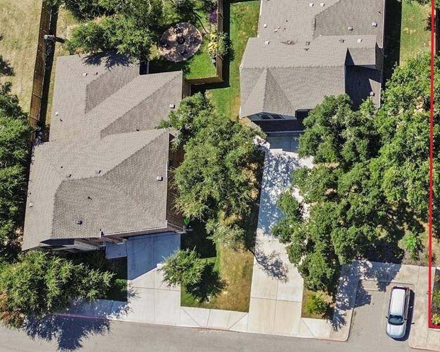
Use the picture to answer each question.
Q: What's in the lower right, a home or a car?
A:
car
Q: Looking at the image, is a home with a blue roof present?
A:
No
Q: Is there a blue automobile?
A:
No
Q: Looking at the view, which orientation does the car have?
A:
from top to bottom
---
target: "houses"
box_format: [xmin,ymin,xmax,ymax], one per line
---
[23,53,189,256]
[240,0,384,135]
